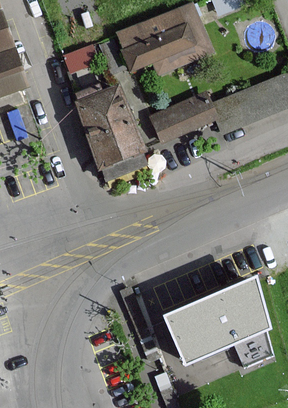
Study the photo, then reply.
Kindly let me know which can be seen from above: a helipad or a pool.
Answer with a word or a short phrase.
pool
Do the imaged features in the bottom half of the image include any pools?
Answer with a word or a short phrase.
No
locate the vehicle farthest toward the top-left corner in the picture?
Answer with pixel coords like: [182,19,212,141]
[28,0,42,17]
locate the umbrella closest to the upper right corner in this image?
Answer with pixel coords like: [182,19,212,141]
[148,154,166,172]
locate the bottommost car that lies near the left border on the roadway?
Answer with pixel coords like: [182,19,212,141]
[6,356,28,370]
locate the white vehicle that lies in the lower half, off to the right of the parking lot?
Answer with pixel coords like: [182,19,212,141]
[262,246,276,268]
